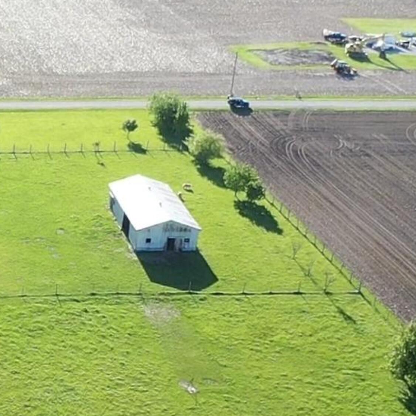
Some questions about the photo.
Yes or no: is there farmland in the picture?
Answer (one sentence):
Yes, there's farmland in this view.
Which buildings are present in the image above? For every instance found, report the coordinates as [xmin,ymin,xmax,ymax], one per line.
[107,174,205,251]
